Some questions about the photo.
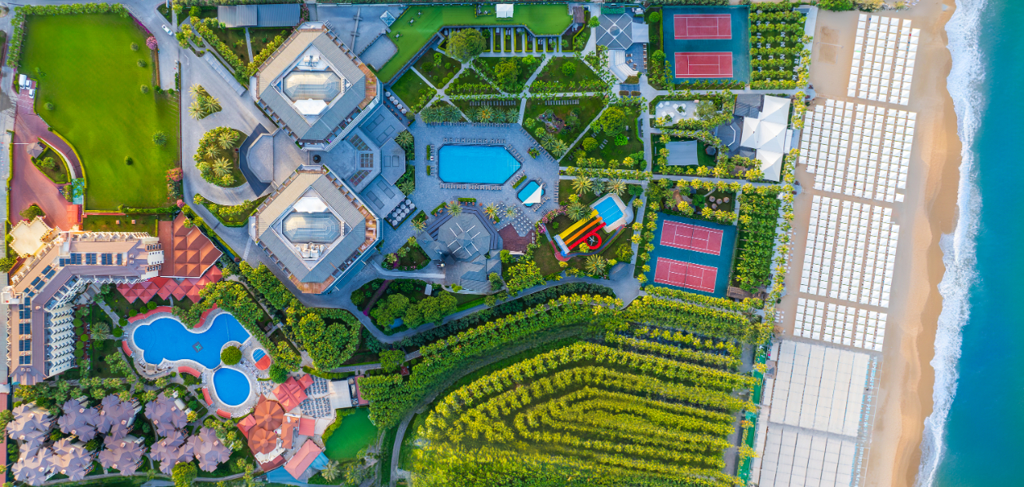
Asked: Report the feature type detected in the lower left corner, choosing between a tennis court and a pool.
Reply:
pool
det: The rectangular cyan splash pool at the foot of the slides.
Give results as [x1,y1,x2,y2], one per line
[594,196,623,227]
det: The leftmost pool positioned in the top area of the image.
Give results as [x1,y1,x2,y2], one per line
[437,143,522,185]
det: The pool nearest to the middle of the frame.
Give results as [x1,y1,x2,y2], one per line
[517,180,546,207]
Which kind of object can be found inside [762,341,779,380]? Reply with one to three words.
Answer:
building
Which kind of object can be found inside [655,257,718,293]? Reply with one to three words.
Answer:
tennis court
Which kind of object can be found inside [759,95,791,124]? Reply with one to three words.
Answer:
tent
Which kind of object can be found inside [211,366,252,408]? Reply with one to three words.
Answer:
swimming pool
